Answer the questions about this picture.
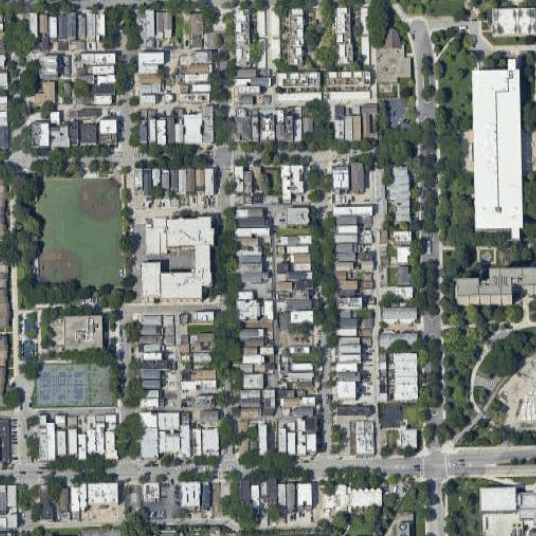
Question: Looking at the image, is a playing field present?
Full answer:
Yes, the photo shows a playing field.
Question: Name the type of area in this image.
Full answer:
This image shows a residential area.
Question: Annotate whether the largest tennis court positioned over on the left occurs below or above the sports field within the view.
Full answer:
The largest tennis court positioned over on the left is located below the sports field in this view.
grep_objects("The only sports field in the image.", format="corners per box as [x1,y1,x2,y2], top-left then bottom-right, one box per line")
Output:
[39,178,121,287]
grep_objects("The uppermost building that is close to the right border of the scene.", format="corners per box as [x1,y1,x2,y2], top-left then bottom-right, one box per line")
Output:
[491,8,536,38]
